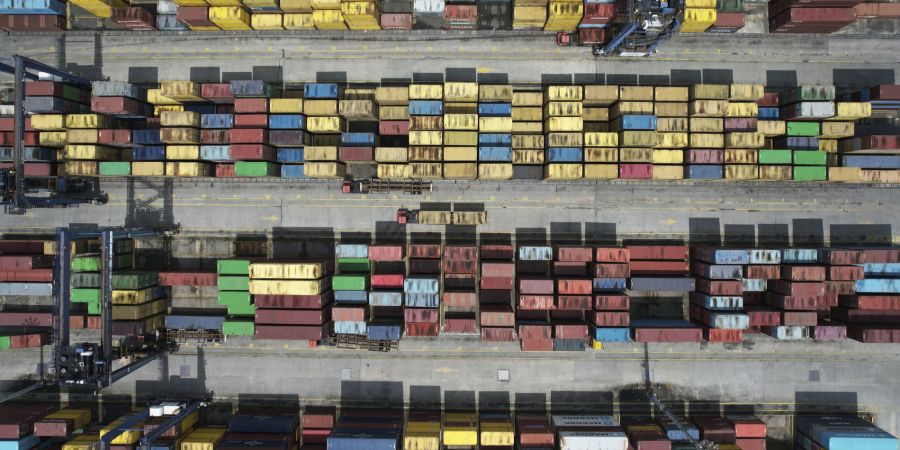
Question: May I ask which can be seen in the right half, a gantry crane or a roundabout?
gantry crane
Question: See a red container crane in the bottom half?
No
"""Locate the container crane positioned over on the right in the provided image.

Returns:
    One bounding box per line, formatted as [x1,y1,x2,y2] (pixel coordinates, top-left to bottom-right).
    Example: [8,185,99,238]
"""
[600,0,694,59]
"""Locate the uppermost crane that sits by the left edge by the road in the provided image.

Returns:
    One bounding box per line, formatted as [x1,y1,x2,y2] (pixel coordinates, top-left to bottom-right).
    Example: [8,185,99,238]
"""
[0,47,105,209]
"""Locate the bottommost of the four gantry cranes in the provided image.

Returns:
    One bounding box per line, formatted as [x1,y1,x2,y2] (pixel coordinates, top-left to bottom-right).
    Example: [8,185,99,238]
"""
[98,399,207,450]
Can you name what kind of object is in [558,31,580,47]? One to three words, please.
vehicle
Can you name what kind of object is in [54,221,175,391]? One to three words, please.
container crane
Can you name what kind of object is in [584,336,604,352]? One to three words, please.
vehicle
